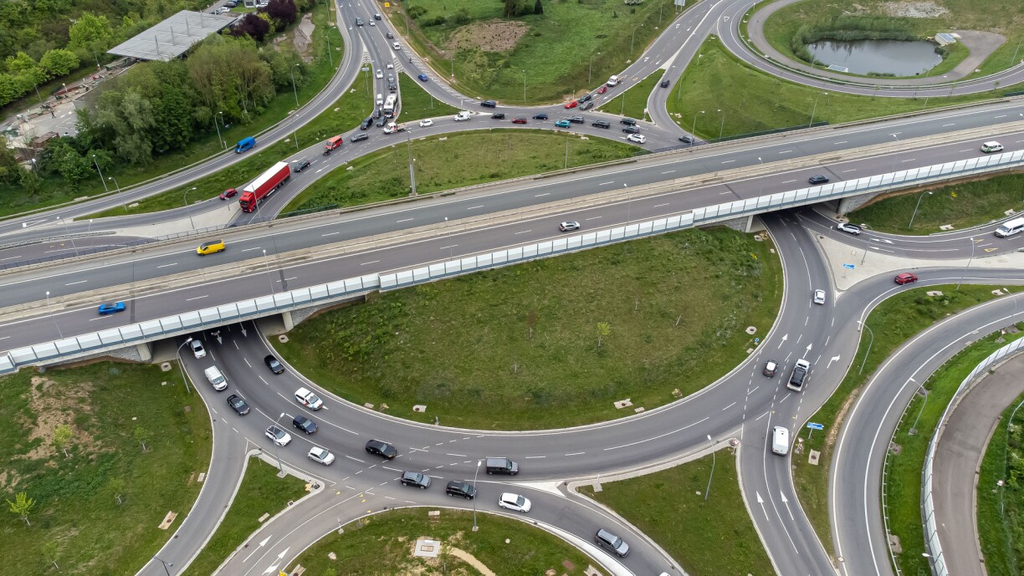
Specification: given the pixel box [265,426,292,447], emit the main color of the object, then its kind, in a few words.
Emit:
white car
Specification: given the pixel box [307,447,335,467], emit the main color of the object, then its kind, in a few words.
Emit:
white car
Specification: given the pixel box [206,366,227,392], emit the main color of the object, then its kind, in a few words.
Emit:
white vehicle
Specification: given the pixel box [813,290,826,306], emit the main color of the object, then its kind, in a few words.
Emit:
white vehicle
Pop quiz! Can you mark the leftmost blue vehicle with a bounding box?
[97,302,127,316]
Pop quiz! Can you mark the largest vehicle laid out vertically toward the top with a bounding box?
[382,91,397,117]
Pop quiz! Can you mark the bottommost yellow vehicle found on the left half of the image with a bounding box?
[197,239,225,254]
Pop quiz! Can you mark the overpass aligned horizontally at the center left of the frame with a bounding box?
[63,286,398,367]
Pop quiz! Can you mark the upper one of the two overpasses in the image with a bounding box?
[696,163,1024,235]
